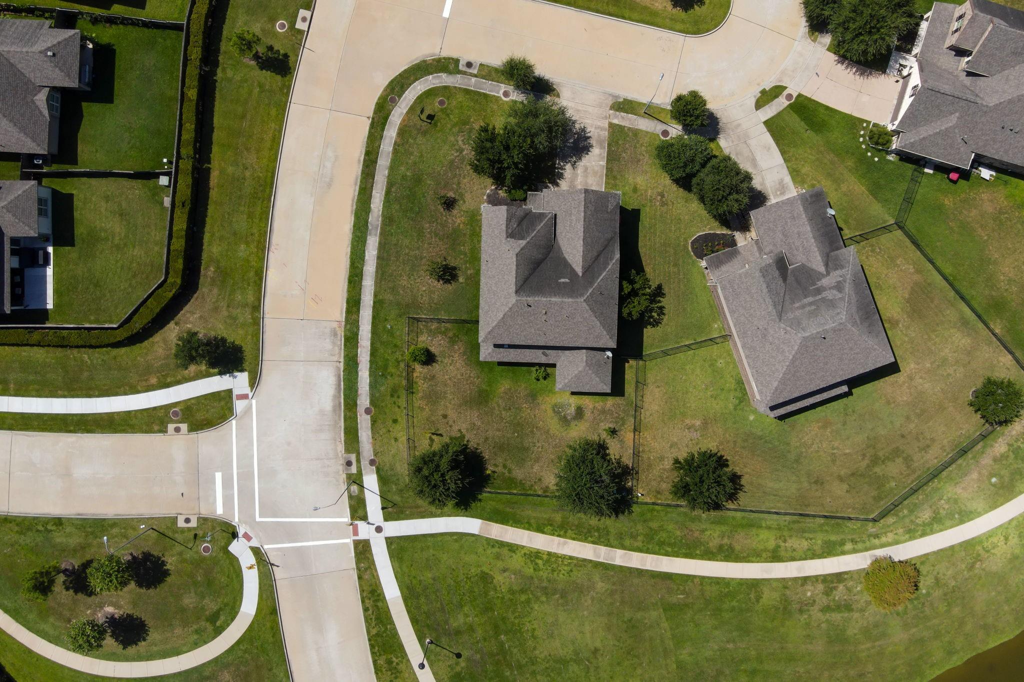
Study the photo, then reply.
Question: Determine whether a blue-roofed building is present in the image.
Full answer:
No, the scene contains no blue-roofed building.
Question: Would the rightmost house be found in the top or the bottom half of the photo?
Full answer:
Seen from above, the rightmost house lies in the top half of the view.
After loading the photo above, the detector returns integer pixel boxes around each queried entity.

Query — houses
[703,187,895,418]
[0,180,54,313]
[479,188,621,393]
[887,0,1024,174]
[0,19,95,155]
